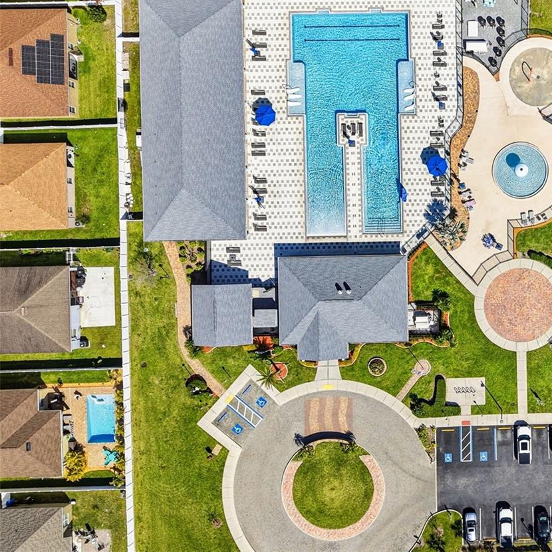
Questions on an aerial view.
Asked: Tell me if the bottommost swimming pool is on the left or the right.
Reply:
left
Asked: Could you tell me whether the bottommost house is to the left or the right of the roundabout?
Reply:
on its left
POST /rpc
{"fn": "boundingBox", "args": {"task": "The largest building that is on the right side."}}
[278,255,410,363]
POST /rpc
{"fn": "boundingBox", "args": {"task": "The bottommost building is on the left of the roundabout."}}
[0,504,73,552]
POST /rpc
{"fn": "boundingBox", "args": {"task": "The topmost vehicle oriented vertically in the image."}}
[517,424,532,465]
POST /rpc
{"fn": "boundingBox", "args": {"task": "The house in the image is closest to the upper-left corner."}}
[0,8,78,117]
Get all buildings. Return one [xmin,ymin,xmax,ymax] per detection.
[278,255,410,363]
[0,266,80,353]
[0,504,73,552]
[191,283,258,346]
[0,389,73,478]
[0,142,77,231]
[0,8,78,117]
[127,0,247,241]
